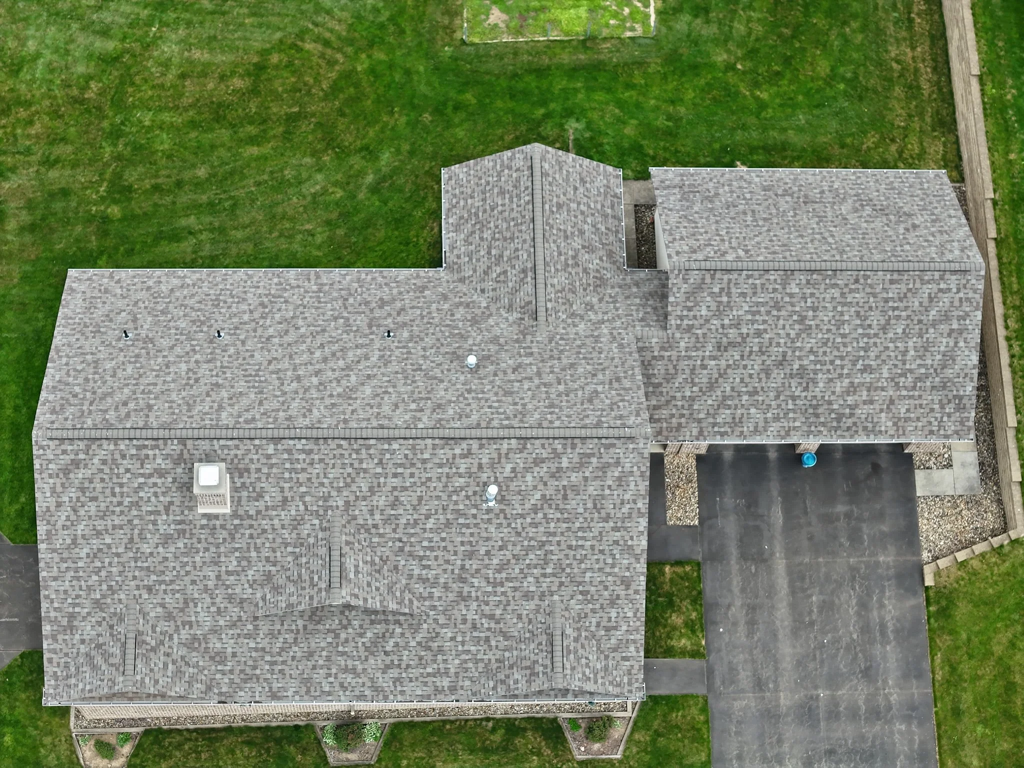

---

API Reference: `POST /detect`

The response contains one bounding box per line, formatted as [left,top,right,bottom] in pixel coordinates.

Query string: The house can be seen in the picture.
[35,143,983,720]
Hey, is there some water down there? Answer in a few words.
No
